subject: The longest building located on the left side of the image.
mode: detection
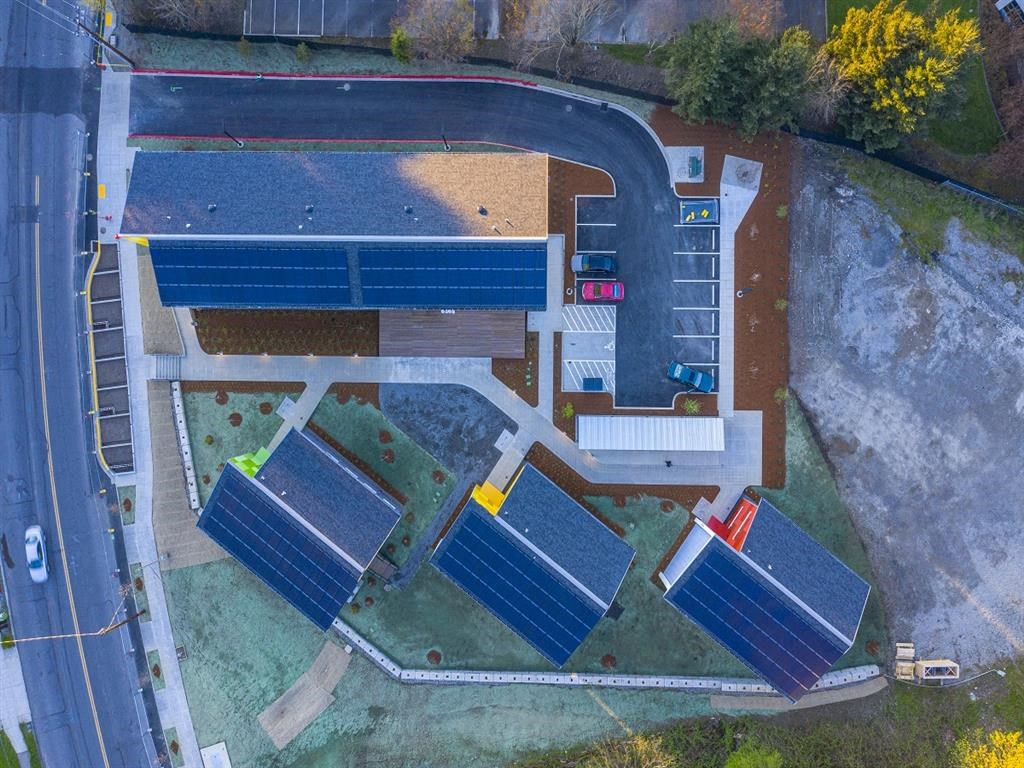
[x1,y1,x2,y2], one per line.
[117,151,549,315]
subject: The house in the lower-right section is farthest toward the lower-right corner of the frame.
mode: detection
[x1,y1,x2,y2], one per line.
[653,497,871,702]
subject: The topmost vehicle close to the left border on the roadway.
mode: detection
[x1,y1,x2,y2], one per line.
[17,530,46,582]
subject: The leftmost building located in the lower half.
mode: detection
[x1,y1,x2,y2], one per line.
[196,427,402,632]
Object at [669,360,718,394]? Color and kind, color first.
blue car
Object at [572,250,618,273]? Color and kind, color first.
blue car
